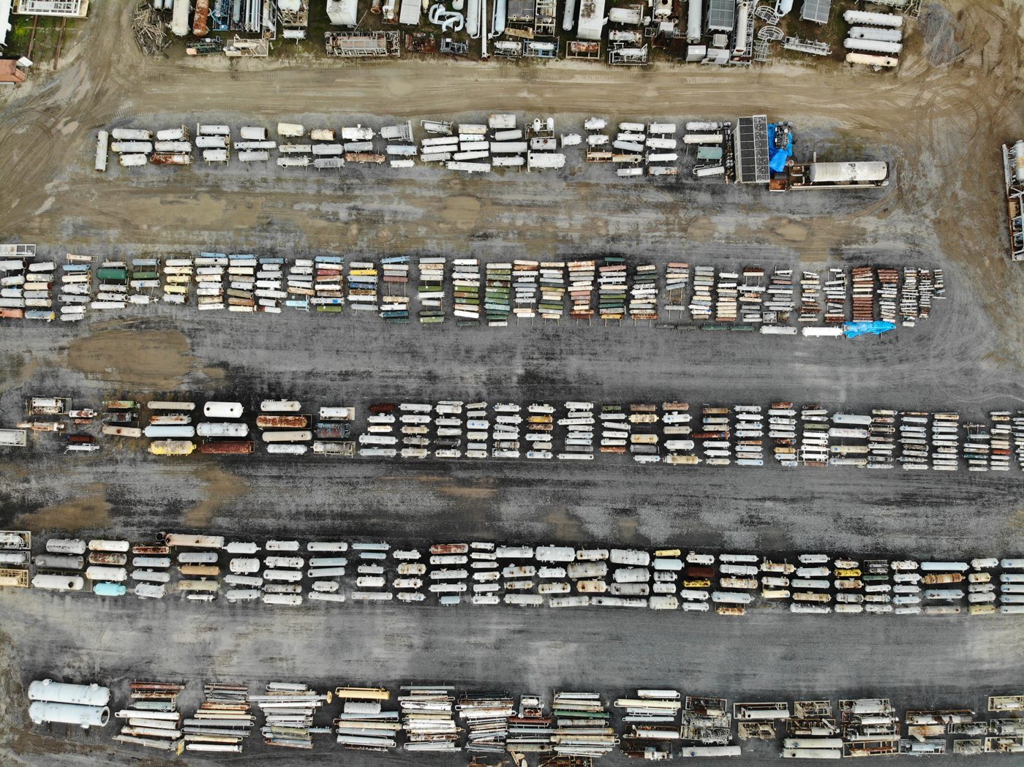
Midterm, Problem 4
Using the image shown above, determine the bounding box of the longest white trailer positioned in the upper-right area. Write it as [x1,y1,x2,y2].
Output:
[787,160,890,191]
